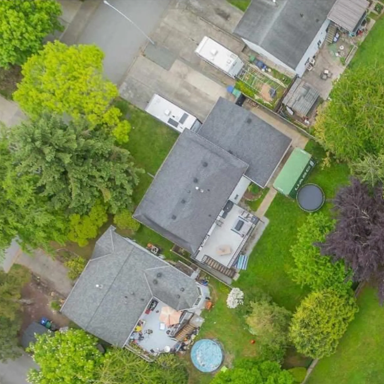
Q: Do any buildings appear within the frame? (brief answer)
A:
Yes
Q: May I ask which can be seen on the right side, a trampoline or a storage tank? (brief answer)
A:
trampoline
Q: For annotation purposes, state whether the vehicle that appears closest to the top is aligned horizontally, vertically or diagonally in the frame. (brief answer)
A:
diagonally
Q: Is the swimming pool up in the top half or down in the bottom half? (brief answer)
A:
bottom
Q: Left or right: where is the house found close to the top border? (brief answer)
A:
right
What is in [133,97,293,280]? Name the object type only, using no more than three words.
house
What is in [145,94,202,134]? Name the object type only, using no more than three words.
vehicle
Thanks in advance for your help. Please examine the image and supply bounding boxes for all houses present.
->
[232,0,344,83]
[59,228,216,355]
[133,97,293,280]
